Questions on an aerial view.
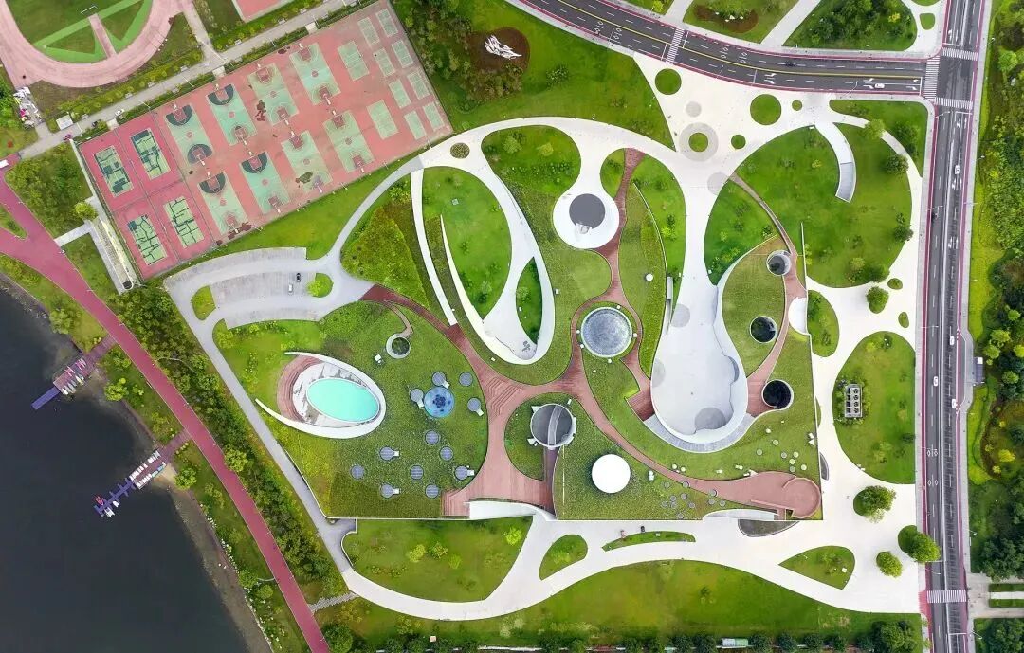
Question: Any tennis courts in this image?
Yes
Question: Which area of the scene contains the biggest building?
center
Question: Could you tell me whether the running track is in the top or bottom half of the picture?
top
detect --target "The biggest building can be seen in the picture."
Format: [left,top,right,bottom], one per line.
[213,125,822,520]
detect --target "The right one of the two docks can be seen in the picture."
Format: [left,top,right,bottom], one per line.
[94,431,189,516]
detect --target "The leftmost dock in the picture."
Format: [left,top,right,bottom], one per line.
[32,335,116,409]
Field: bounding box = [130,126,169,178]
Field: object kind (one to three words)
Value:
tennis court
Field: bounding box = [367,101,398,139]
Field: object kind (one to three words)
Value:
sports court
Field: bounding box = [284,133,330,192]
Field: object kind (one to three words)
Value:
basketball court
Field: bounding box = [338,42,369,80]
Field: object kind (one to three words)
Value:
sports court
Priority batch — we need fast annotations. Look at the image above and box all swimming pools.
[308,379,378,421]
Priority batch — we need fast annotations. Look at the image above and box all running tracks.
[0,0,183,88]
